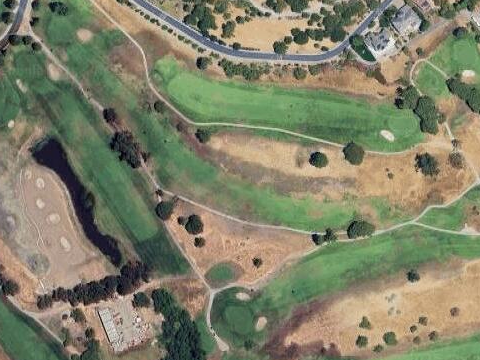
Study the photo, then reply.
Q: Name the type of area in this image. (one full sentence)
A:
The area seen from above is a golf course.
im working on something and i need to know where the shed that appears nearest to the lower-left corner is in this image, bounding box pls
[99,307,120,344]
